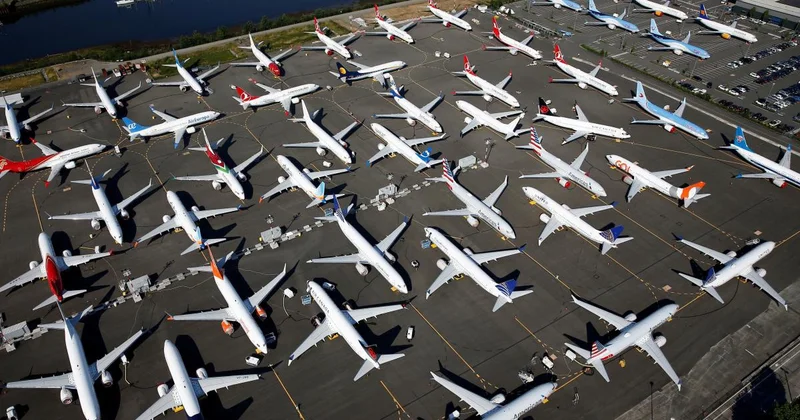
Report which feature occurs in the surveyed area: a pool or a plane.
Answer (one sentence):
This aerial view contains a plane.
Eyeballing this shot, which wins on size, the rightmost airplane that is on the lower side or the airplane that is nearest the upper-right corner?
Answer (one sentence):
The rightmost airplane that is on the lower side covers a greater area than the airplane that is nearest the upper-right corner.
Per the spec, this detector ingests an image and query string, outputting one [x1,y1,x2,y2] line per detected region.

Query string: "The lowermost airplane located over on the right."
[428,369,556,420]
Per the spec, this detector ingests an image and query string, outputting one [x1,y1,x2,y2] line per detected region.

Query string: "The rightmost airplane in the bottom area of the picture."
[679,233,792,307]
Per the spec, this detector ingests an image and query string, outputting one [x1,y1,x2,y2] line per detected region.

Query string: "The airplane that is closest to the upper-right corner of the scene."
[691,5,756,44]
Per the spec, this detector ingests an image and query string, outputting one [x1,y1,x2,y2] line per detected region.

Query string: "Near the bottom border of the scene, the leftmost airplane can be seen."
[0,301,148,420]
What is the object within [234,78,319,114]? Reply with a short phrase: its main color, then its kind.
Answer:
white airplane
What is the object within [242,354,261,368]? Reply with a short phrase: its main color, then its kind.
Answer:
white vehicle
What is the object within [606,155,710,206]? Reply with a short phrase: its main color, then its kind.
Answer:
white airplane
